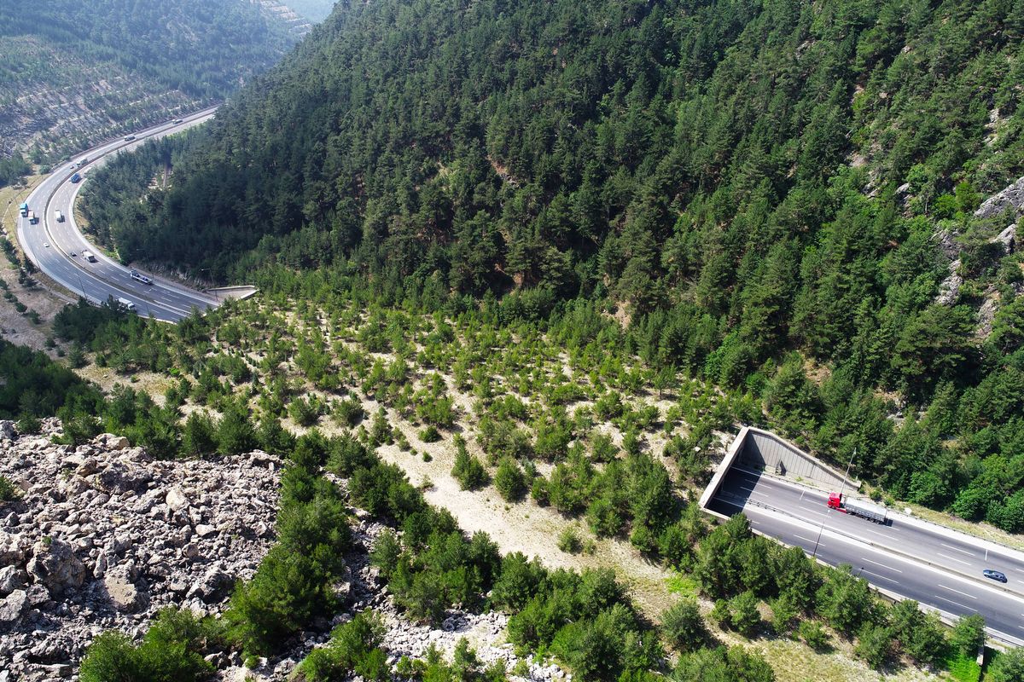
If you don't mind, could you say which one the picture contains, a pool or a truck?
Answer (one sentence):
There is a truck in the scene.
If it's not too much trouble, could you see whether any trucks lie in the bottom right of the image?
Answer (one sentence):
Yes, in the bottom right of the image there is a truck.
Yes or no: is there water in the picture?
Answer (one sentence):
No, water can't be seen anywhere here.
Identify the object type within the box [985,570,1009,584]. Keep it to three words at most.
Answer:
car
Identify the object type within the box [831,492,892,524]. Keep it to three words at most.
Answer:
truck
